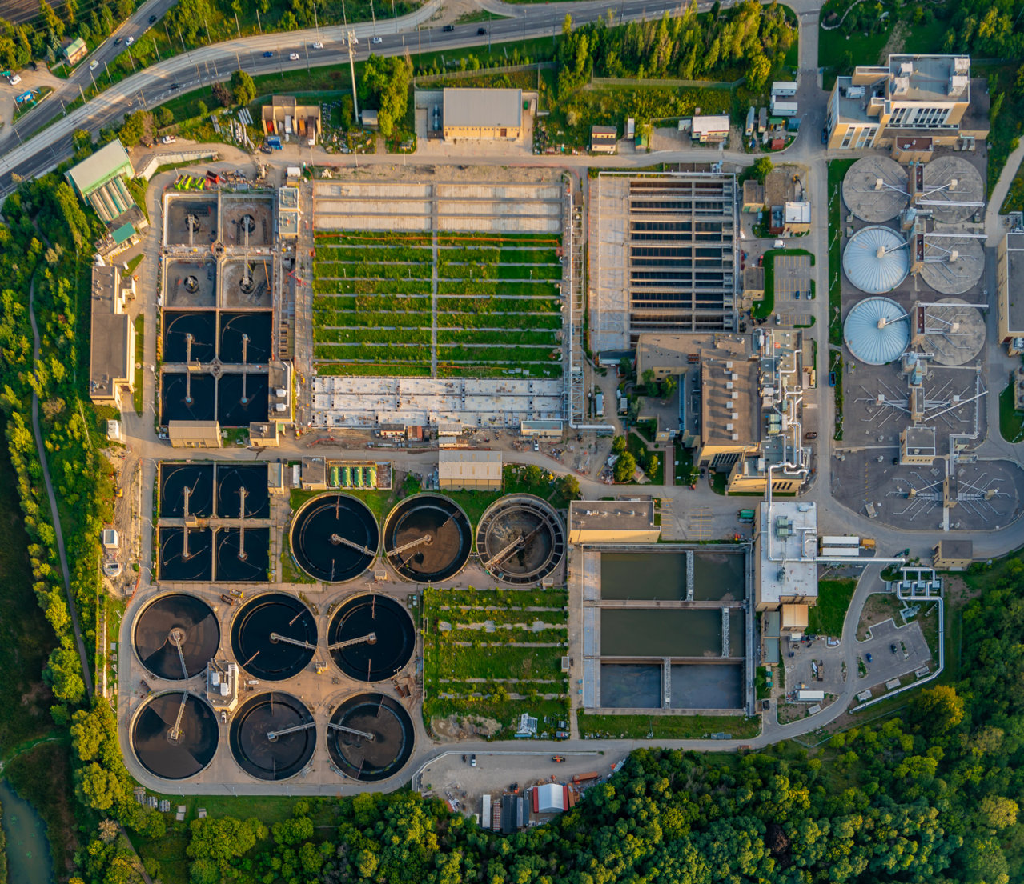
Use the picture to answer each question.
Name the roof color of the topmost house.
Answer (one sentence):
The roof of the topmost house is green.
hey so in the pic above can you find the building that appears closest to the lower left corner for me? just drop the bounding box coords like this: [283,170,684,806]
[208,657,240,711]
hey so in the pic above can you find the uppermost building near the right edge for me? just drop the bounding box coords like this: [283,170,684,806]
[828,55,989,162]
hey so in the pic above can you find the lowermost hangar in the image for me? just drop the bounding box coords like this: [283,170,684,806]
[538,783,563,813]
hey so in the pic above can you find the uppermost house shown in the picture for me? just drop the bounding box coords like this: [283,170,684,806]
[64,33,90,67]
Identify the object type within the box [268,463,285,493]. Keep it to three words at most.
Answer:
building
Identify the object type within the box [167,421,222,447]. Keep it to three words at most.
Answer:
shed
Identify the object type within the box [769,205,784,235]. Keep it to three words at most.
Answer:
house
